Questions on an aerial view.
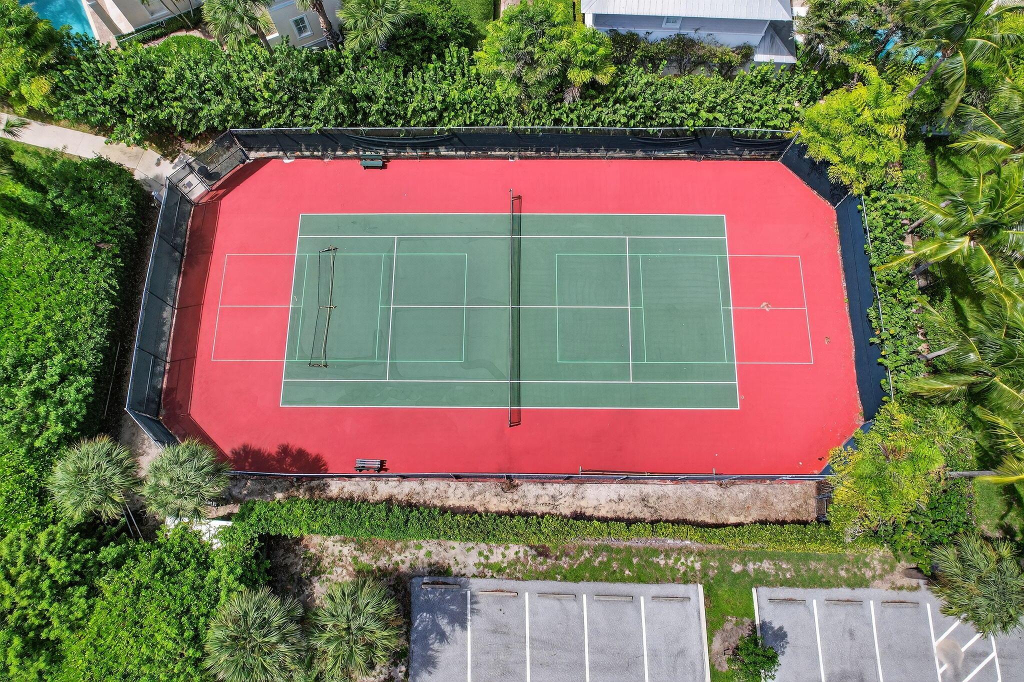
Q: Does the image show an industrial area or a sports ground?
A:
sports ground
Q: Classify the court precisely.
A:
tennis court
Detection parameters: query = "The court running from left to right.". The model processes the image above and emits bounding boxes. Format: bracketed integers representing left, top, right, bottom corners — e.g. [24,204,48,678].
[162,157,862,487]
